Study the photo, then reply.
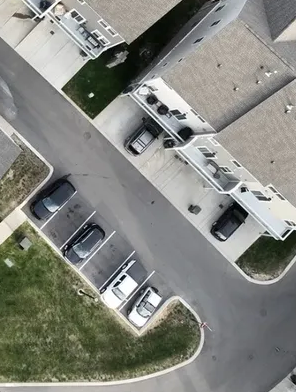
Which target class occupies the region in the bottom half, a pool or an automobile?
automobile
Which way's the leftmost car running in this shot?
at an angle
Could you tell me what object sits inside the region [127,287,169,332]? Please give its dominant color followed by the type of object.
white car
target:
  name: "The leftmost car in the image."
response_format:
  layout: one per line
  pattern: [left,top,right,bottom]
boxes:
[32,177,76,223]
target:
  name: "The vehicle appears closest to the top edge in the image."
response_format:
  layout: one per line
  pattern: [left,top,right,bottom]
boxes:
[126,116,168,158]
